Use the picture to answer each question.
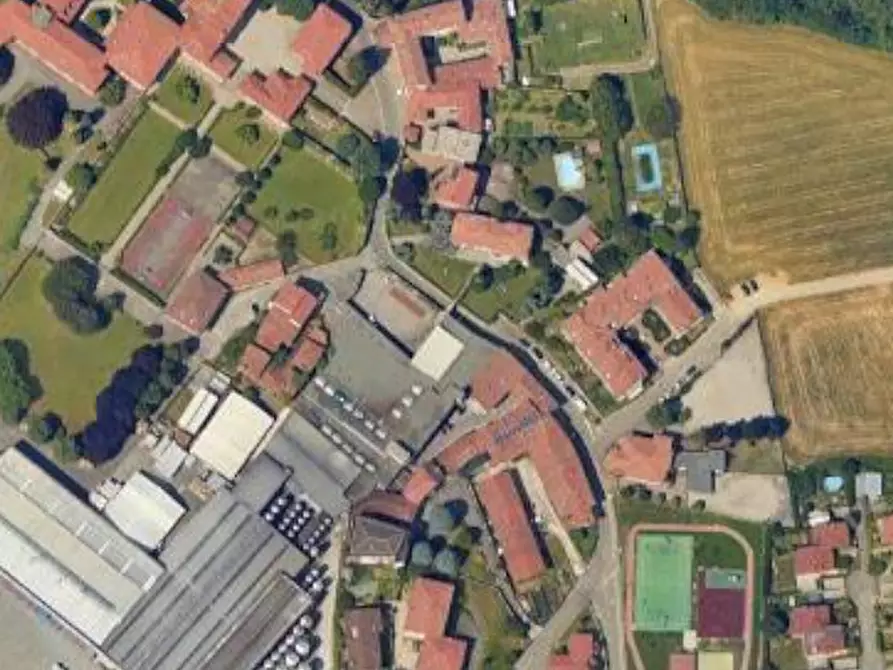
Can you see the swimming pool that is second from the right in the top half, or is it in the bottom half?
top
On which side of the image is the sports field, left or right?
right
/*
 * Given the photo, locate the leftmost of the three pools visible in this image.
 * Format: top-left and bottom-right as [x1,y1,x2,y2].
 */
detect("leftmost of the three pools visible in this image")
[553,151,585,192]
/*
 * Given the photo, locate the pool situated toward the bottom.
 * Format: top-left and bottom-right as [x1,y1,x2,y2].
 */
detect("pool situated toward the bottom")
[824,473,843,492]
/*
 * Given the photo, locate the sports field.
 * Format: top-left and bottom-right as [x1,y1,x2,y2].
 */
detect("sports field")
[615,491,766,670]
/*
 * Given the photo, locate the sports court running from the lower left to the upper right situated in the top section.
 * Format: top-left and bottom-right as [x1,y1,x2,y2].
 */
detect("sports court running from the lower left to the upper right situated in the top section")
[119,154,249,302]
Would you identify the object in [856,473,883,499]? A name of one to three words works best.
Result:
building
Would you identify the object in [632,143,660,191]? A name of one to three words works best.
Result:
swimming pool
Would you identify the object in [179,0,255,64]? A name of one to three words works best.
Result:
house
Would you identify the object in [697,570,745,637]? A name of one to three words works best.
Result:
sports court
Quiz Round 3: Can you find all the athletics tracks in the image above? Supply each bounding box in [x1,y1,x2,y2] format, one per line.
[628,523,753,670]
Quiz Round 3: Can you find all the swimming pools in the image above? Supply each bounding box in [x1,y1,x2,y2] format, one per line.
[553,151,585,192]
[632,143,660,191]
[824,473,843,492]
